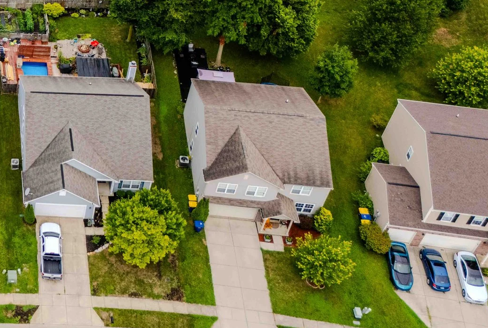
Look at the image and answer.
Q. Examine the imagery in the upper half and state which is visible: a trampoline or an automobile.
trampoline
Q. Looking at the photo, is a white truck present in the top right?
No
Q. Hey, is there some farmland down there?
No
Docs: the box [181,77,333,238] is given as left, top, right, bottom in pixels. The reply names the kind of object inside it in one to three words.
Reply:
house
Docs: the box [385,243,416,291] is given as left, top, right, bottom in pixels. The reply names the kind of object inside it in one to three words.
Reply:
car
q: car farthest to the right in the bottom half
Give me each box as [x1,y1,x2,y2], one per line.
[453,253,488,303]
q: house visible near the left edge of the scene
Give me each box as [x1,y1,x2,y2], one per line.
[17,59,156,222]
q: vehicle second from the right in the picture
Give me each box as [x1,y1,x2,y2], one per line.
[416,248,452,295]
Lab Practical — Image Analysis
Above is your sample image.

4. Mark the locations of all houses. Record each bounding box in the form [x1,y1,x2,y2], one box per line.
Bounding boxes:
[181,77,333,238]
[17,59,156,222]
[365,99,488,269]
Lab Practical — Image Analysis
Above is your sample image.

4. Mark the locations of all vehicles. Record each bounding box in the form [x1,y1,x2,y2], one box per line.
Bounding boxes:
[416,248,452,295]
[39,224,63,281]
[385,243,416,291]
[453,253,488,303]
